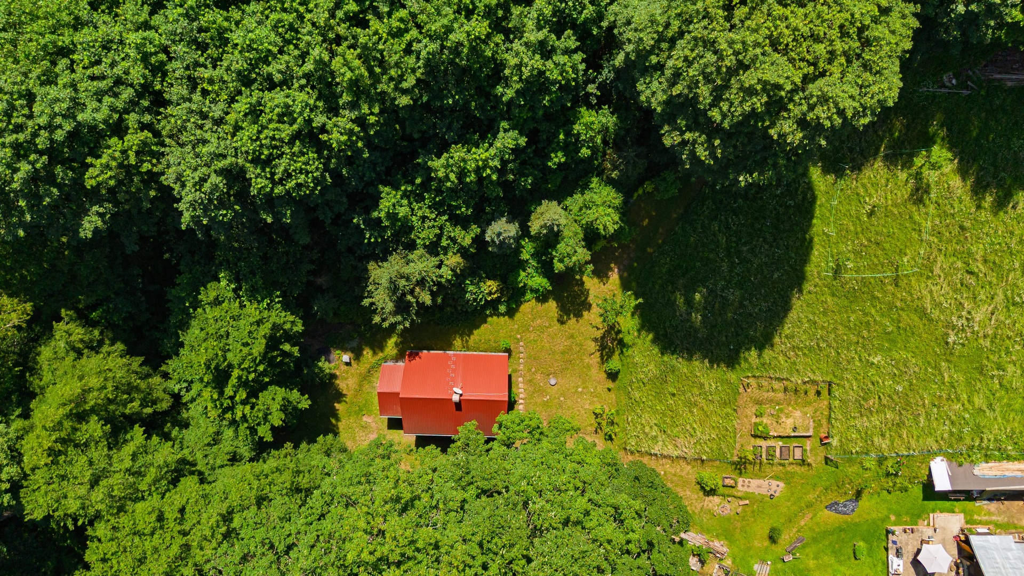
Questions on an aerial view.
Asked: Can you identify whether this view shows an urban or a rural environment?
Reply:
rural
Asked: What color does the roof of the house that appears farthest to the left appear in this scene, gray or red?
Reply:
red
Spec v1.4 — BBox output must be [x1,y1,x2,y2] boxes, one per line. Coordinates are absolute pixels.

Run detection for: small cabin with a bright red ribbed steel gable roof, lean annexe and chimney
[378,350,510,438]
